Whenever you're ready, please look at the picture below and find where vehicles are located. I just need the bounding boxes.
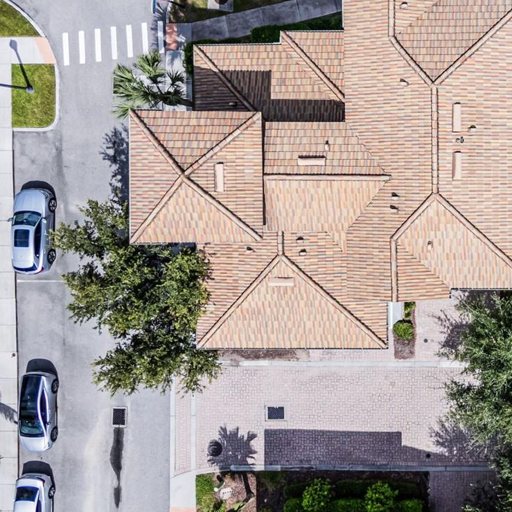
[9,370,58,450]
[10,472,54,512]
[5,187,56,273]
